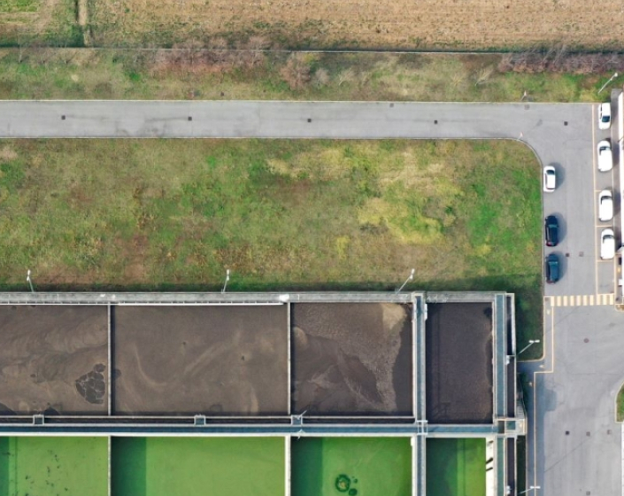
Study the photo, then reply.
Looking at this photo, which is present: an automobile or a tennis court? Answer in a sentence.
This aerial view contains an automobile.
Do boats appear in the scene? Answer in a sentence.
No, the frame has no boat in it.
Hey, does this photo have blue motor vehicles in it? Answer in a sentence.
Yes, I can see a blue motor vehicle in this picture.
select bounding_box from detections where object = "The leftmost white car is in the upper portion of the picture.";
[541,167,557,195]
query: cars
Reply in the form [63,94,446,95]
[598,231,617,260]
[544,256,561,285]
[597,192,614,222]
[595,102,613,132]
[541,167,557,195]
[543,216,561,247]
[594,142,613,174]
